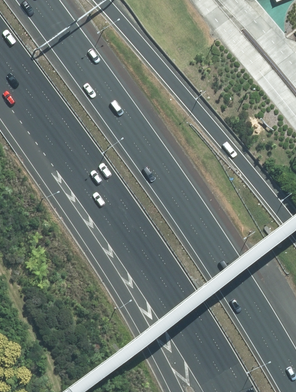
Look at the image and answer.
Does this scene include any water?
No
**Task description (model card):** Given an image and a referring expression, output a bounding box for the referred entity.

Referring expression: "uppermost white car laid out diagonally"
[3,29,16,45]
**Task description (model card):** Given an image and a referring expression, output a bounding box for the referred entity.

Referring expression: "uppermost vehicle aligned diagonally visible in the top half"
[21,0,34,16]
